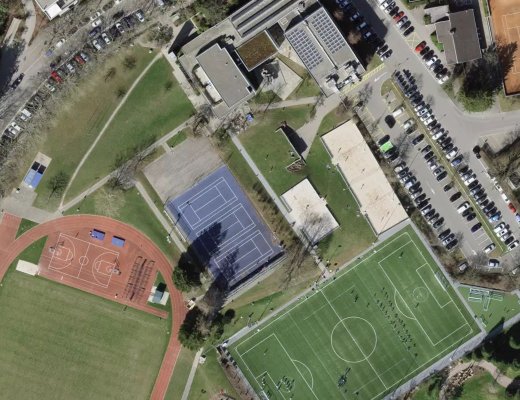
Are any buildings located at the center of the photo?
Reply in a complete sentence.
Yes, I can see a building at the center of the photo.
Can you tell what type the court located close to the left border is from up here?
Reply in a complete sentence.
Looking closely, the court located close to the left border is a basketball court.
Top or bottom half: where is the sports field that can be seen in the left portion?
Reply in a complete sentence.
Seen from above, the sports field that can be seen in the left portion lies in the bottom half of the view.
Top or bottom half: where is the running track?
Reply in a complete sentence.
It is in the bottom half that the running track appears.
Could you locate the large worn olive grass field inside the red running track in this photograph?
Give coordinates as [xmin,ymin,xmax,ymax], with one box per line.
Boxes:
[0,236,172,400]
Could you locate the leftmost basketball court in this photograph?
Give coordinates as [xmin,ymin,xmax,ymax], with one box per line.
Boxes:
[26,226,171,319]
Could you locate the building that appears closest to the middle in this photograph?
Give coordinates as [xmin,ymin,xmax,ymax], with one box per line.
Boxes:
[281,178,340,245]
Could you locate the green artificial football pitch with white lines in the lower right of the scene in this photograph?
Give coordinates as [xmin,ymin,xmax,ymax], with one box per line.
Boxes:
[228,224,478,400]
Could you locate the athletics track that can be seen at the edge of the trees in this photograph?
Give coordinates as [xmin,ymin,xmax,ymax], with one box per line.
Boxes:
[0,211,186,400]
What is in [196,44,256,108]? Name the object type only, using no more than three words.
building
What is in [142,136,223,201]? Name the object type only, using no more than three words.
sports court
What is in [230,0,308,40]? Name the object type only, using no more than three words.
building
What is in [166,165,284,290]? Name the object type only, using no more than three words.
tennis court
